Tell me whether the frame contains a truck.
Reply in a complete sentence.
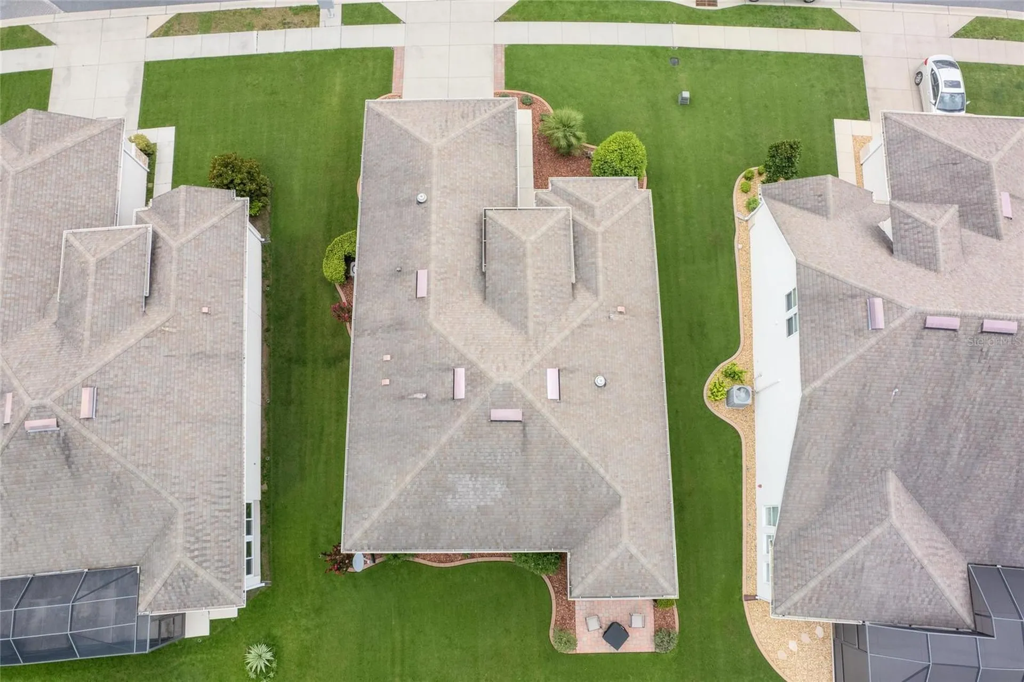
No, this view has no truck in it.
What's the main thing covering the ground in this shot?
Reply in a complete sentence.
What you mostly see from above here is buildings.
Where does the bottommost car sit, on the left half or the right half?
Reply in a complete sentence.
The bottommost car appears in the right half of the scene.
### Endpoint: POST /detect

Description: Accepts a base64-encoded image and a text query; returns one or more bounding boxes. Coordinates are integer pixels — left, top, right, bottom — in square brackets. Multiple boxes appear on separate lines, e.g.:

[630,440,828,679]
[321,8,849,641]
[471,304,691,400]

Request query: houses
[0,110,269,615]
[738,111,1024,629]
[341,98,678,599]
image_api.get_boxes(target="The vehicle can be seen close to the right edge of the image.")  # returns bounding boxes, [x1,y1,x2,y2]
[917,55,974,116]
